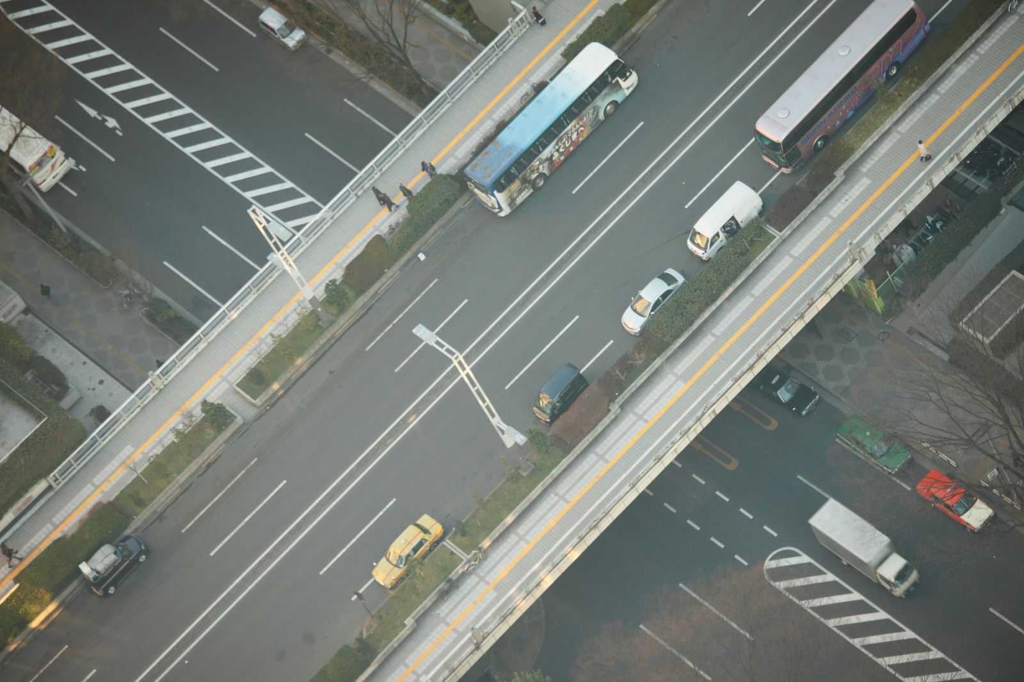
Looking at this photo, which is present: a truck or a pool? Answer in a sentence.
There is a truck in the scene.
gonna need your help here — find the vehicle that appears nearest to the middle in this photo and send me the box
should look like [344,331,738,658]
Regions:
[527,357,593,425]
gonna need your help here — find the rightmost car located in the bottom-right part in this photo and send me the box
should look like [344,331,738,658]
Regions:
[915,469,994,534]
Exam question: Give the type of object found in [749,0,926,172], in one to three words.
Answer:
bus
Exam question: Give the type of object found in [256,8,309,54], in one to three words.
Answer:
car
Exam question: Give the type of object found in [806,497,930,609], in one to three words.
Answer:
truck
